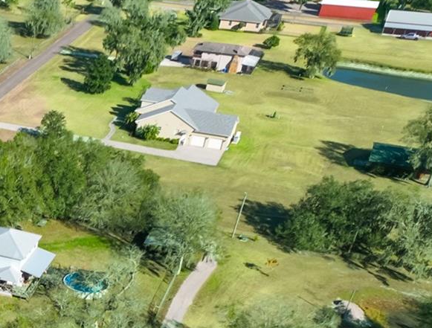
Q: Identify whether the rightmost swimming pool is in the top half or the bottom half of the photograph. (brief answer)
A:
bottom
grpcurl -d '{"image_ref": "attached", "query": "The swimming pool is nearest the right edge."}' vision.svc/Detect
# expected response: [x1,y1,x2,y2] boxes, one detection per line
[60,269,114,299]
